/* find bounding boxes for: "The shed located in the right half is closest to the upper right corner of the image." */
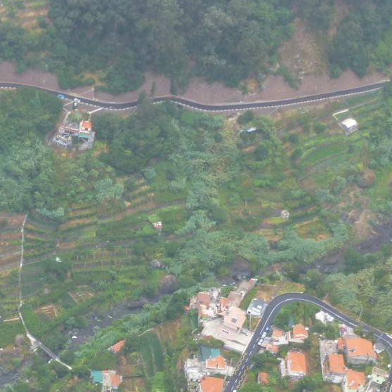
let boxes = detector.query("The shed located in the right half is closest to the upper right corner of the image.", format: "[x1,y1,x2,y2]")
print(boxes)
[334,115,357,136]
